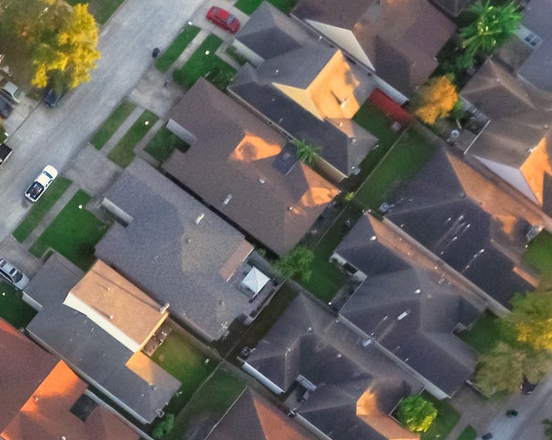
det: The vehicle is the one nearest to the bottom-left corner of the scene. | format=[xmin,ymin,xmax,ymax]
[0,256,28,290]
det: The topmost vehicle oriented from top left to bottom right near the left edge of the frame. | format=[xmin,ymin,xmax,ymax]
[0,73,31,108]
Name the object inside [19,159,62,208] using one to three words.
truck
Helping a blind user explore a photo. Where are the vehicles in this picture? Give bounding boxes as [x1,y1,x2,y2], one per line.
[0,256,28,290]
[0,73,31,108]
[35,77,71,116]
[19,159,62,208]
[203,2,244,39]
[0,137,16,170]
[0,95,22,124]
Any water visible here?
No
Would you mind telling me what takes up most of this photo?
buildings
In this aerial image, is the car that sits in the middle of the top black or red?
red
